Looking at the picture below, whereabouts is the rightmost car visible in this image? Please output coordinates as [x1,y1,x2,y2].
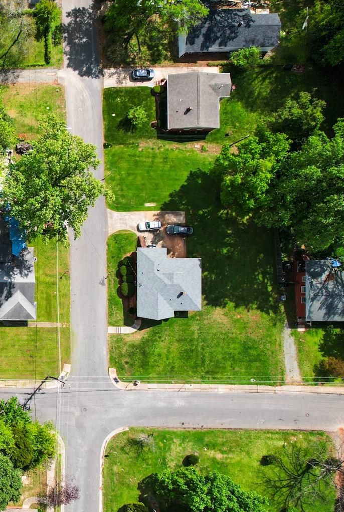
[164,223,194,236]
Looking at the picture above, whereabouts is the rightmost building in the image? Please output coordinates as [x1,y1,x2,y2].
[284,260,344,325]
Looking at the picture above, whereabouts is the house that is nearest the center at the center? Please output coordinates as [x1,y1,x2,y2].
[131,233,202,319]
